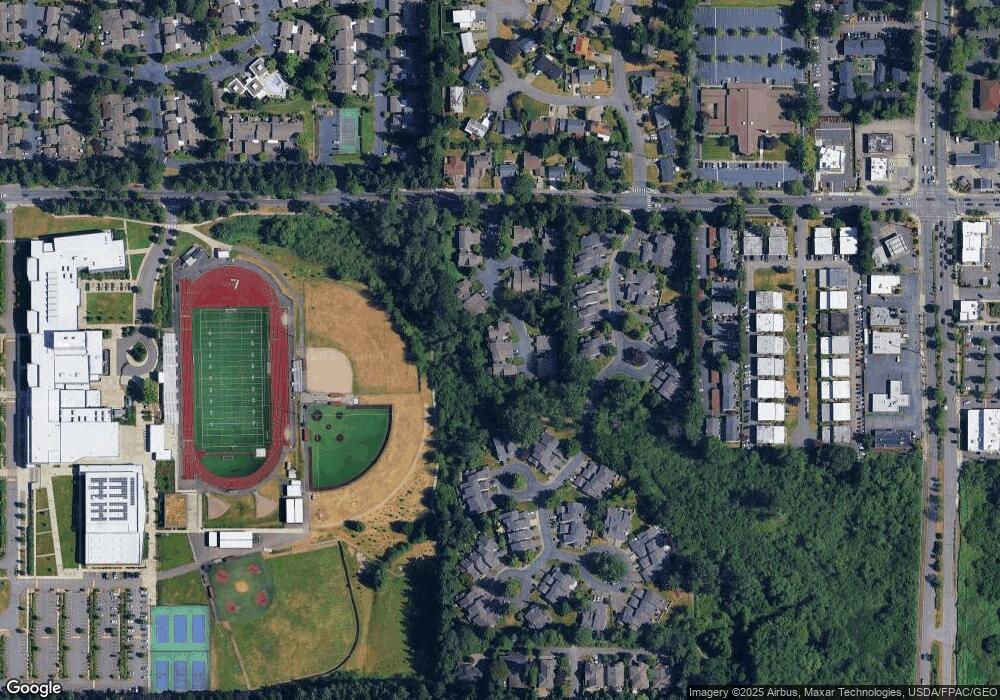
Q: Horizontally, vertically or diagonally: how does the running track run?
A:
vertically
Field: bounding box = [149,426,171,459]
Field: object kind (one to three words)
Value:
building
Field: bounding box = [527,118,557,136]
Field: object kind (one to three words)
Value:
house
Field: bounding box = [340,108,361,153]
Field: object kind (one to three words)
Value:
tennis court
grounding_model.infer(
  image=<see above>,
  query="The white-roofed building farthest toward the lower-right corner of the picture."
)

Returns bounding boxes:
[968,410,1000,452]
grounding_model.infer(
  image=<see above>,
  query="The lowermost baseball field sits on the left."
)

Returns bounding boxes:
[212,556,274,624]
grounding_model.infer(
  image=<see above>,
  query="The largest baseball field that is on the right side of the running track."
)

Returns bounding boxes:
[302,402,392,490]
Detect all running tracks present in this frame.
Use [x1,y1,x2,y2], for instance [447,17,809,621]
[181,265,289,489]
